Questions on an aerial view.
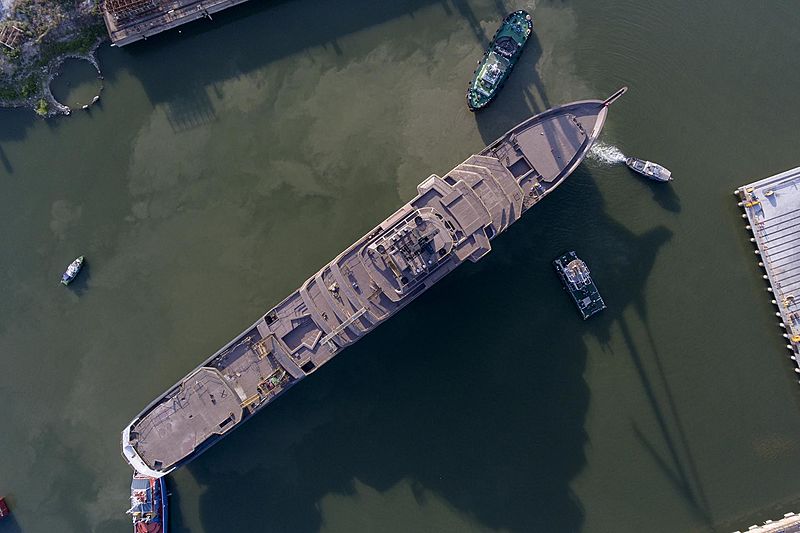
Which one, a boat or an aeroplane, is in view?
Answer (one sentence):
There is a boat in the scene.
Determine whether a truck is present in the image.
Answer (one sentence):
No, the photo shows no truck.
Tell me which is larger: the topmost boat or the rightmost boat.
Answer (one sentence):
The topmost boat is larger than the rightmost boat.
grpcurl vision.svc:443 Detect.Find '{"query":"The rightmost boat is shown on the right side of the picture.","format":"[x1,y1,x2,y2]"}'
[623,155,673,181]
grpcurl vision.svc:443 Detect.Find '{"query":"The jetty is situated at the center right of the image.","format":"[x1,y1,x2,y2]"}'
[732,166,800,385]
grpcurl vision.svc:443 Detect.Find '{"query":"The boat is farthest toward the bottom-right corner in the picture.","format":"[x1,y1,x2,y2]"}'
[552,249,607,319]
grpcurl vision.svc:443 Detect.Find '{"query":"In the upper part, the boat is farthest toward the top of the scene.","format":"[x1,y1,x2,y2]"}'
[467,11,530,109]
